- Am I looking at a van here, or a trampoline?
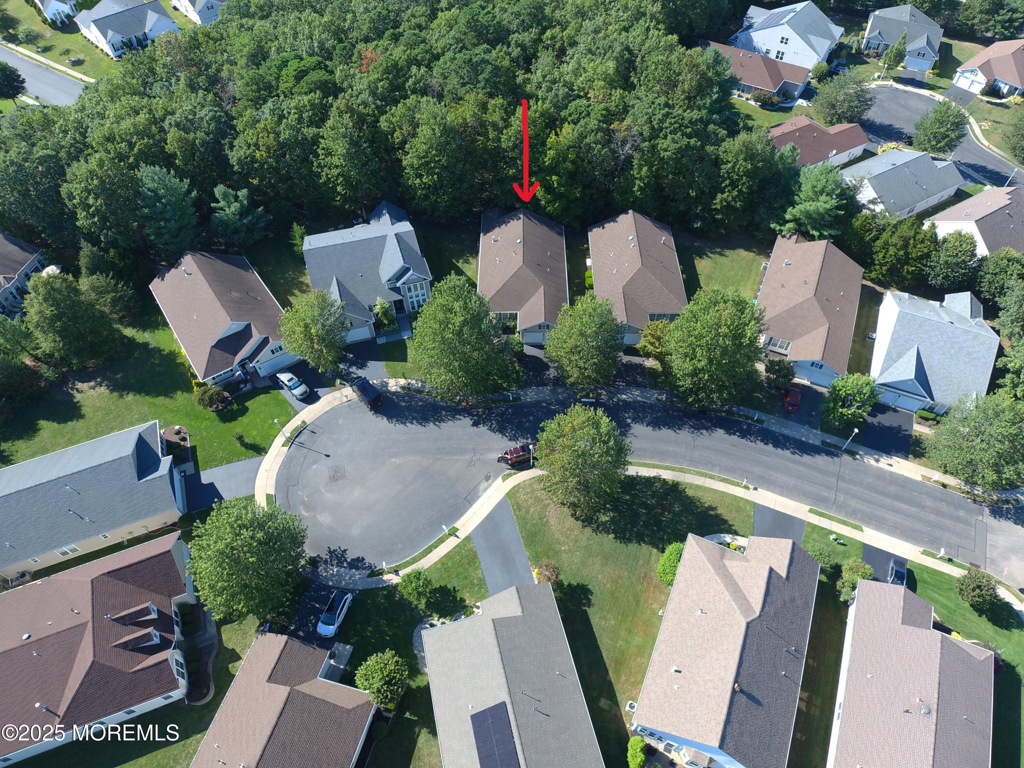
van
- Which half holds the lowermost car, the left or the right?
left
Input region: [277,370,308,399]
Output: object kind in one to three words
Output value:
car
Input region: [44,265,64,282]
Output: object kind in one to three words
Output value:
umbrella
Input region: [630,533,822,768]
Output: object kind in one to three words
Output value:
house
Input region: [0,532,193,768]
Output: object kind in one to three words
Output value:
house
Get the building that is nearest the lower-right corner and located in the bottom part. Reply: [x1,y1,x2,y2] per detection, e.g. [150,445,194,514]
[826,579,995,768]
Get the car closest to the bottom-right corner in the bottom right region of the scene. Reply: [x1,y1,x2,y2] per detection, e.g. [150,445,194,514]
[886,553,911,588]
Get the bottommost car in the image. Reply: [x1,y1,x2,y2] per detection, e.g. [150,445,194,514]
[317,588,352,637]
